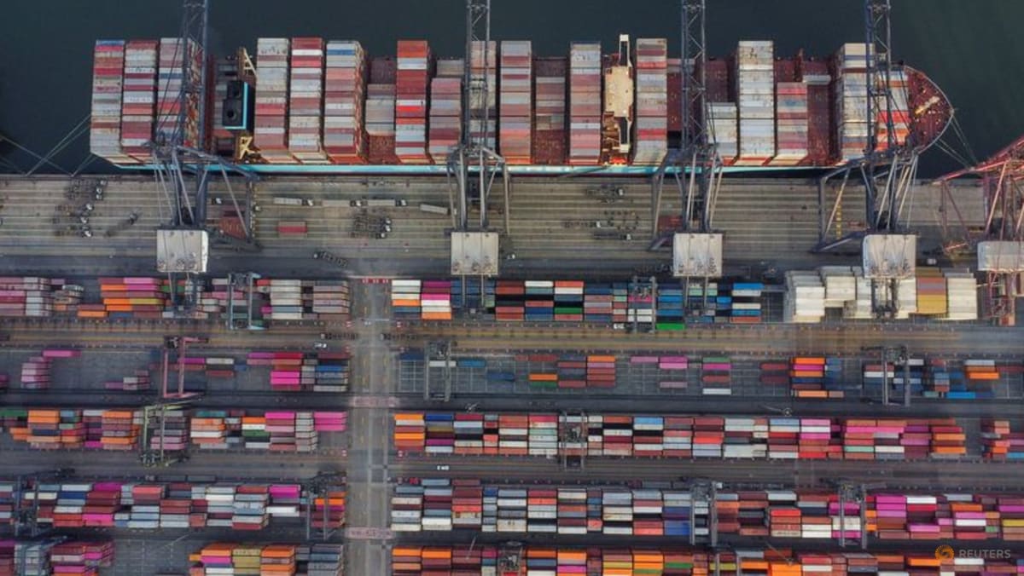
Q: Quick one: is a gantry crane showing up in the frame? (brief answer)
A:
Yes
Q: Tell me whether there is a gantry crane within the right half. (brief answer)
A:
Yes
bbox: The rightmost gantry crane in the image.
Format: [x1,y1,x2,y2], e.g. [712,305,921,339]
[922,137,1024,318]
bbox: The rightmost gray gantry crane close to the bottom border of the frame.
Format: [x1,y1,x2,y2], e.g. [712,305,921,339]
[819,476,866,549]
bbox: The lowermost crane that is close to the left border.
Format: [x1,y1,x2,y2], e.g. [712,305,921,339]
[19,532,74,576]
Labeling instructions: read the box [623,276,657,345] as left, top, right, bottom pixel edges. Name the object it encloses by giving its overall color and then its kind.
gray container crane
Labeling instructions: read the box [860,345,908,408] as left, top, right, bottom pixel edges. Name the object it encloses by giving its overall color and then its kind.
gray container crane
